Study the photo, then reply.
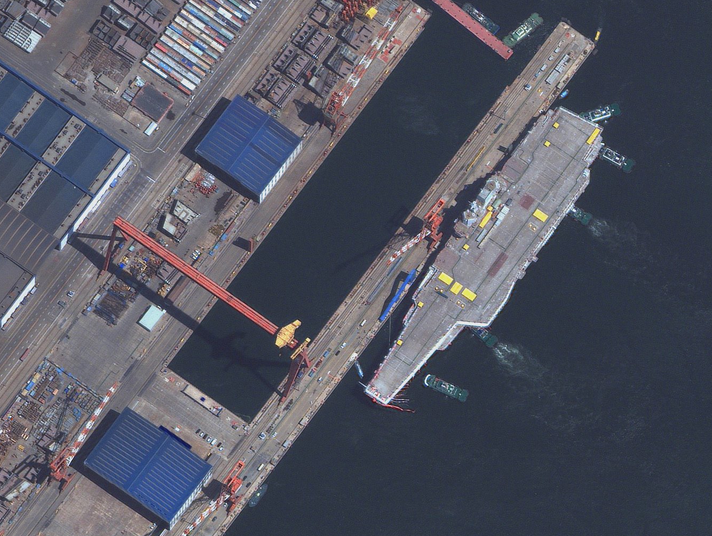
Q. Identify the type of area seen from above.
port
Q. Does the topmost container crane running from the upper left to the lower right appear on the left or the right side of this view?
left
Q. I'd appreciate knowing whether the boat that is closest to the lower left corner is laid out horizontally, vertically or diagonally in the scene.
diagonally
